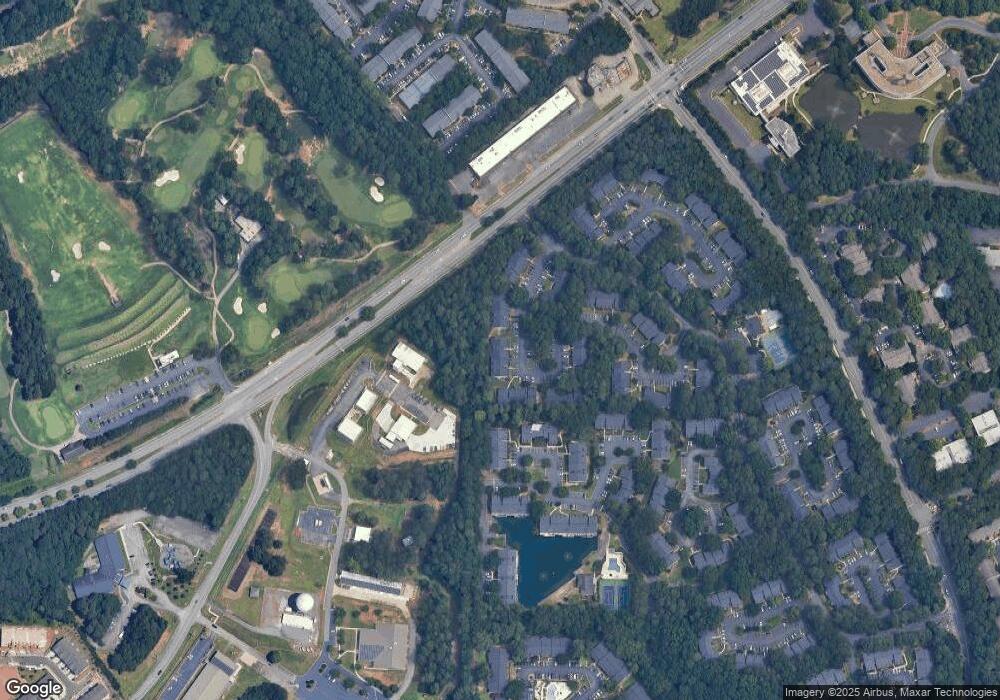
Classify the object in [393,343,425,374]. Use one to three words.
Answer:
building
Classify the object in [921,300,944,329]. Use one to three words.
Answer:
house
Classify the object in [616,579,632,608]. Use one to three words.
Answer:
tennis court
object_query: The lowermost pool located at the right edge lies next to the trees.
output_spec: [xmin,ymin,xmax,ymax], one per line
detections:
[935,283,951,298]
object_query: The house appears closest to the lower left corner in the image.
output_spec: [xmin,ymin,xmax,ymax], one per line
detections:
[18,671,61,700]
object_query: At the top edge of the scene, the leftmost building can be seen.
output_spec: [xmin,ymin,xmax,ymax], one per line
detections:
[305,0,354,44]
